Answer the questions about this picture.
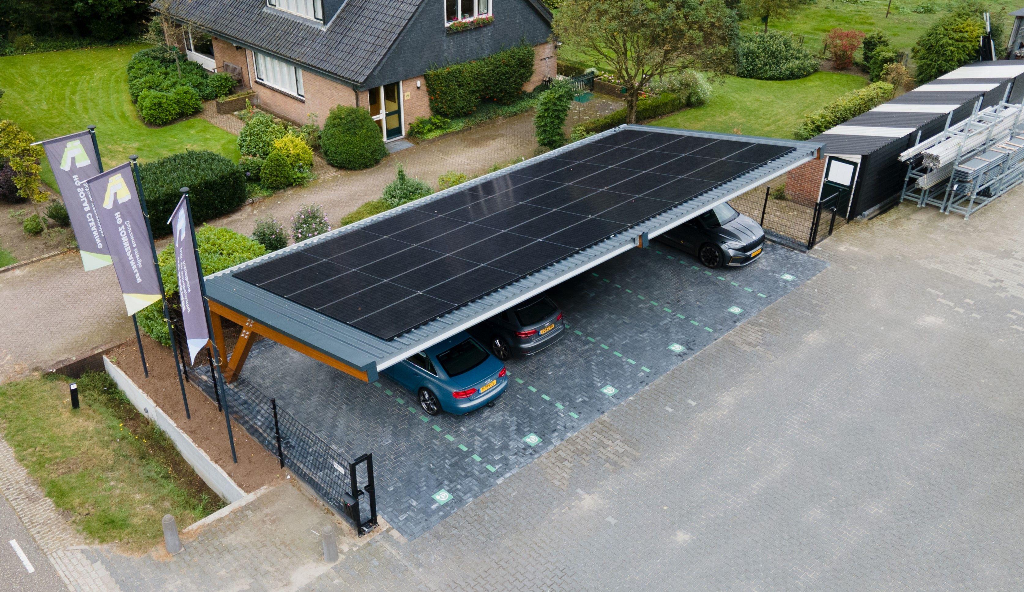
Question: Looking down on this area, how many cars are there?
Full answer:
In total, 3 cars can be seen.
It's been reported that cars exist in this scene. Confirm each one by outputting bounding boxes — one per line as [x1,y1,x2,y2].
[641,196,772,267]
[385,324,514,418]
[456,286,570,361]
